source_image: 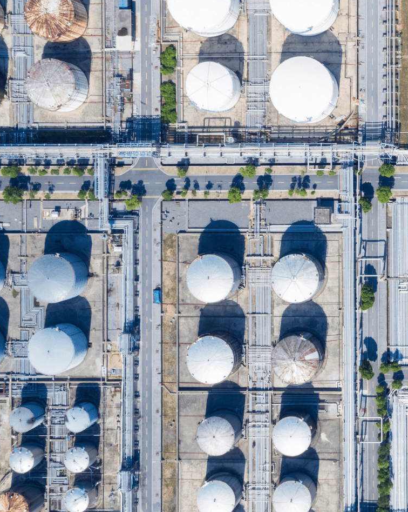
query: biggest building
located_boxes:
[116,10,135,52]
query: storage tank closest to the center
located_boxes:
[186,251,244,303]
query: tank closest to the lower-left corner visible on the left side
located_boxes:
[0,480,45,512]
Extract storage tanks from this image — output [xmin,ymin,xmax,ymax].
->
[196,409,244,456]
[271,251,326,302]
[272,409,318,456]
[7,401,46,433]
[186,251,244,303]
[269,57,342,126]
[26,320,90,374]
[64,440,99,473]
[184,61,242,114]
[196,470,245,512]
[0,480,45,512]
[270,0,342,39]
[273,470,318,512]
[23,0,89,45]
[24,59,90,115]
[8,440,45,473]
[167,0,242,39]
[63,480,99,512]
[186,330,244,384]
[64,402,100,433]
[26,250,91,303]
[272,330,326,383]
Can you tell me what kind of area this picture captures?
industrial area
